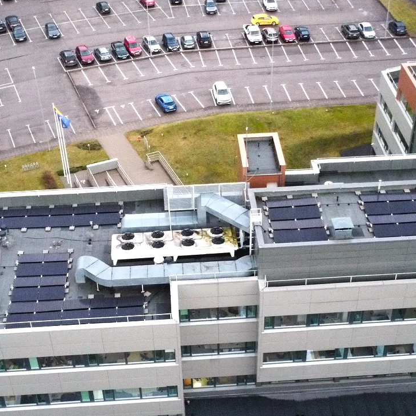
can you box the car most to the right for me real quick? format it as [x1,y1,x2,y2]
[388,22,408,38]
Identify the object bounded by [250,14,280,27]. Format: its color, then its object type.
yellow vehicle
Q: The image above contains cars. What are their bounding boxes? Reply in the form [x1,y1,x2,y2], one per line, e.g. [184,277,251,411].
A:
[262,0,278,12]
[250,14,280,27]
[75,44,95,66]
[94,48,113,65]
[60,51,78,68]
[11,26,28,44]
[44,23,63,41]
[161,31,182,53]
[340,24,361,42]
[141,36,163,56]
[122,34,143,57]
[212,81,231,105]
[171,0,182,6]
[3,16,20,31]
[294,28,311,43]
[0,19,7,35]
[204,0,219,16]
[154,94,178,116]
[196,32,213,49]
[262,29,280,45]
[356,23,377,41]
[181,33,196,53]
[96,3,112,17]
[388,22,408,38]
[279,26,296,44]
[110,42,131,62]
